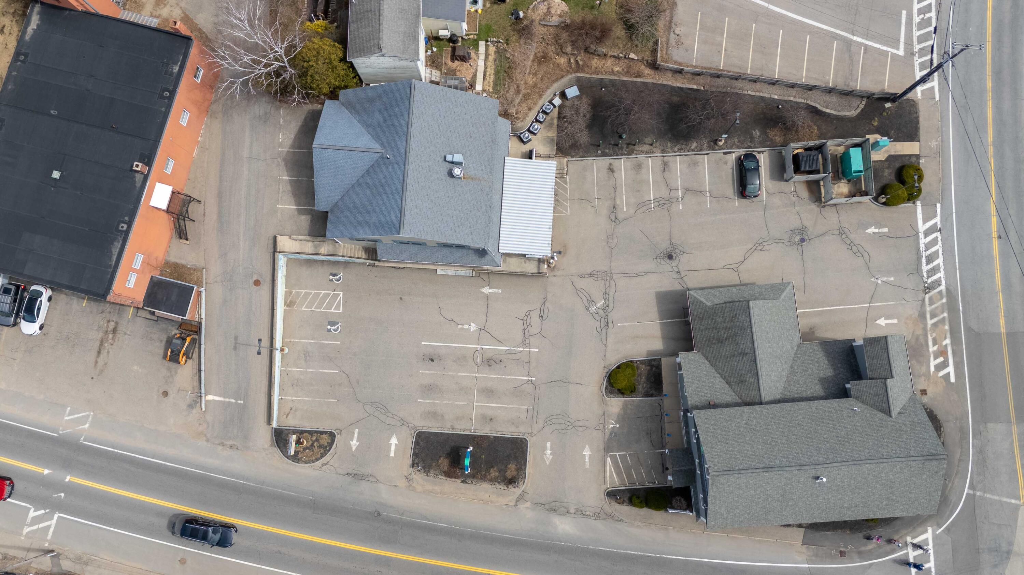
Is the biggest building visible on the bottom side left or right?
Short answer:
right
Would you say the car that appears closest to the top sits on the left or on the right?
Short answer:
right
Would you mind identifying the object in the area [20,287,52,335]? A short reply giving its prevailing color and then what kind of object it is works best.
white car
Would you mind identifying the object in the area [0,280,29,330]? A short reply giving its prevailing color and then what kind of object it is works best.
gray car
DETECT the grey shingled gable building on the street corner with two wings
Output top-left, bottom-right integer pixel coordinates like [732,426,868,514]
[660,280,948,532]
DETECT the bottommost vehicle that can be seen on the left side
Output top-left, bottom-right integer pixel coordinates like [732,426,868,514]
[180,516,236,548]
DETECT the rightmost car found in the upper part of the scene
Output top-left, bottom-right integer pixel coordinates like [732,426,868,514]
[738,153,761,196]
